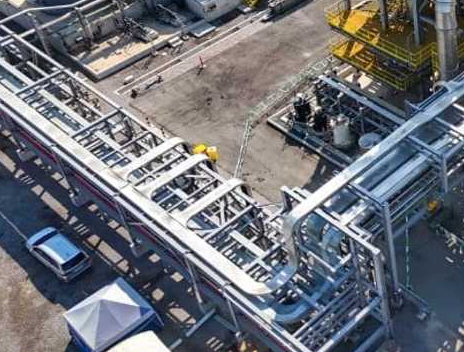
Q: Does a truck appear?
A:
No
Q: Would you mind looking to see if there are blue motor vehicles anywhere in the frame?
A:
Yes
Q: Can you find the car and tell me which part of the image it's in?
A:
bottom left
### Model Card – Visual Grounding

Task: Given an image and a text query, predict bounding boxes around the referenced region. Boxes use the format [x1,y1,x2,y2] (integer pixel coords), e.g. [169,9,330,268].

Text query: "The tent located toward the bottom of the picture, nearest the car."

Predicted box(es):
[61,279,166,352]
